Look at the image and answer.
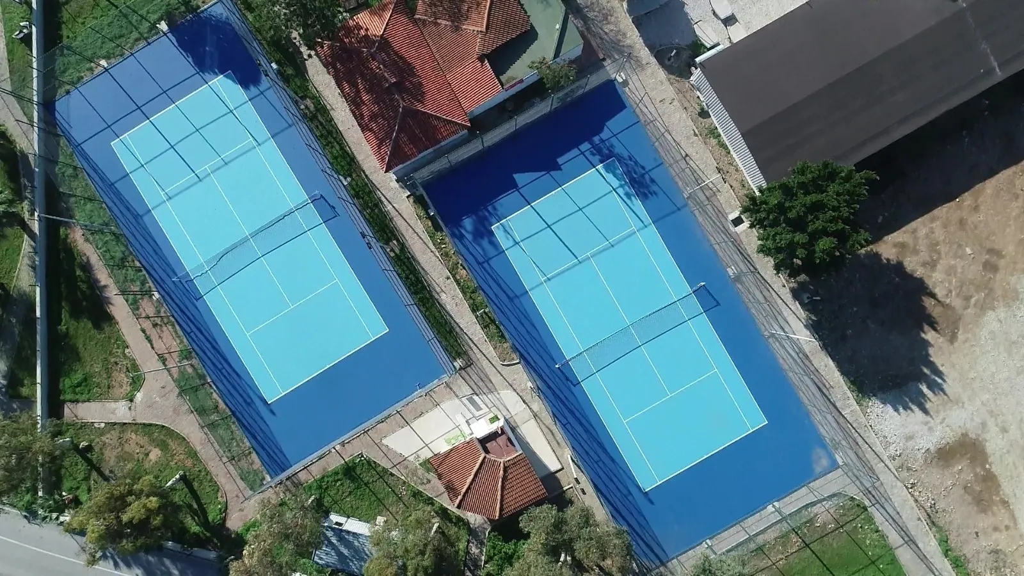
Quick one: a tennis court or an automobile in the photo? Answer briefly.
tennis court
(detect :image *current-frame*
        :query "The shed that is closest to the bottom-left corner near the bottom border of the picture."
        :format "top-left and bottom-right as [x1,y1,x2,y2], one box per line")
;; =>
[314,512,372,576]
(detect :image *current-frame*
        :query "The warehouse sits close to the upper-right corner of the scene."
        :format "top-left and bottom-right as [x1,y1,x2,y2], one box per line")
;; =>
[690,0,1024,190]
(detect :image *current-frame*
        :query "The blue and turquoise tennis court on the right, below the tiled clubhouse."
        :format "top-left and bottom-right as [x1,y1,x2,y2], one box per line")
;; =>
[420,82,840,569]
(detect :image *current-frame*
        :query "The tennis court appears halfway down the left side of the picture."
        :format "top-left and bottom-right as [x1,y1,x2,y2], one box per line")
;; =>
[54,0,454,478]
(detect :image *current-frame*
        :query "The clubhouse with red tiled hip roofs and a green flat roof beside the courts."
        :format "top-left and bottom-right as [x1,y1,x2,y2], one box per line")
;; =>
[315,0,583,177]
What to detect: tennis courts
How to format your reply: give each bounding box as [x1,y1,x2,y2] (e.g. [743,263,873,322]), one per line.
[420,82,840,569]
[54,0,454,478]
